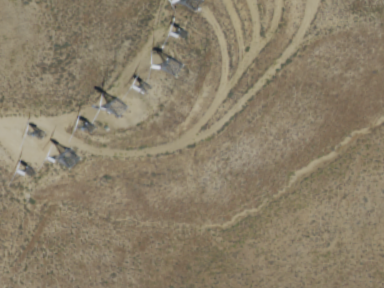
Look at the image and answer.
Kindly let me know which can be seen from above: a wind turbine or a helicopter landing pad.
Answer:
wind turbine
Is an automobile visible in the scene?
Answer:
No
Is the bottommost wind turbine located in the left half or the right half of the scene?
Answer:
left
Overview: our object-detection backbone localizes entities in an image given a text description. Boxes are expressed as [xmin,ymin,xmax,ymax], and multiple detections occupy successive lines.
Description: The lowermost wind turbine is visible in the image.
[10,160,38,182]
